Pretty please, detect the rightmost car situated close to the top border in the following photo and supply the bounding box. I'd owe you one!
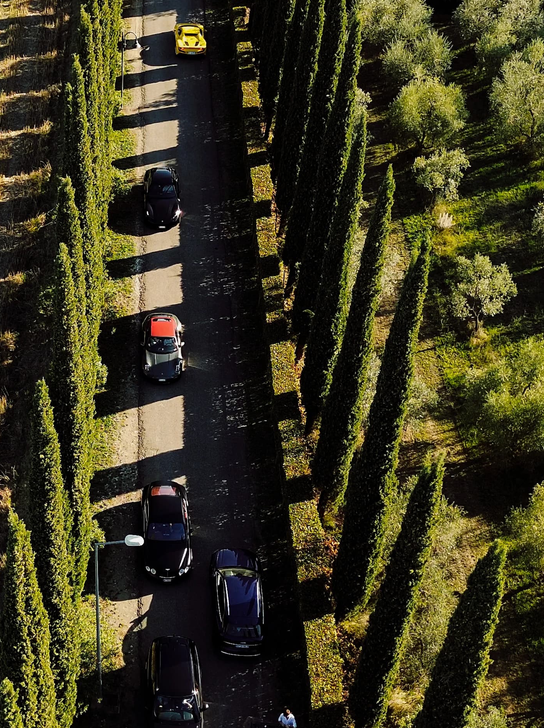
[175,25,207,59]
